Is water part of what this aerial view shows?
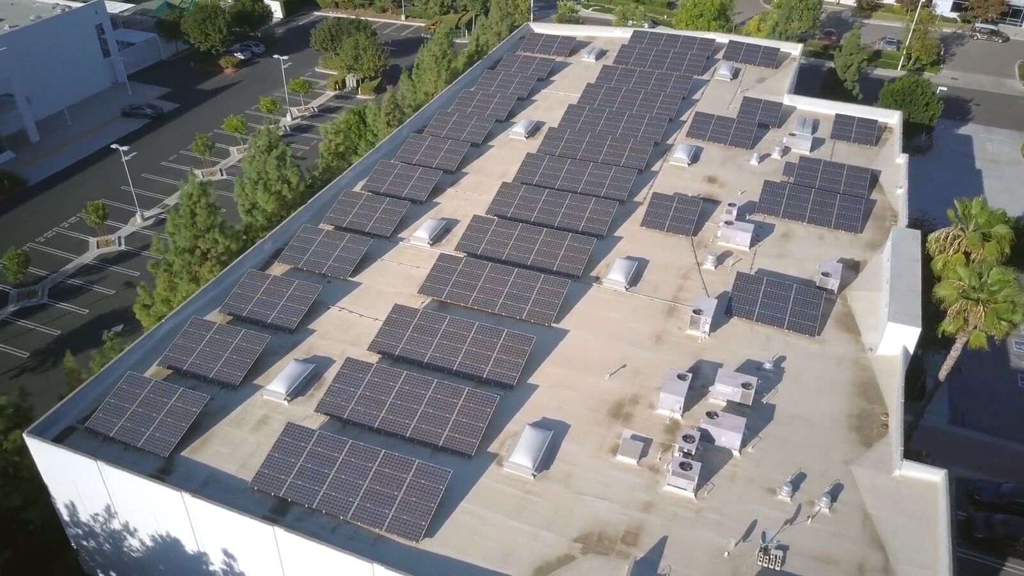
No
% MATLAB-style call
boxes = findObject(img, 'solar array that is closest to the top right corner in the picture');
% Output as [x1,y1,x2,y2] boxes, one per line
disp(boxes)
[830,114,878,148]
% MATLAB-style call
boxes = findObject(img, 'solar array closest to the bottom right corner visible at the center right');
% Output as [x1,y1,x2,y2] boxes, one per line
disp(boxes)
[727,270,825,335]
